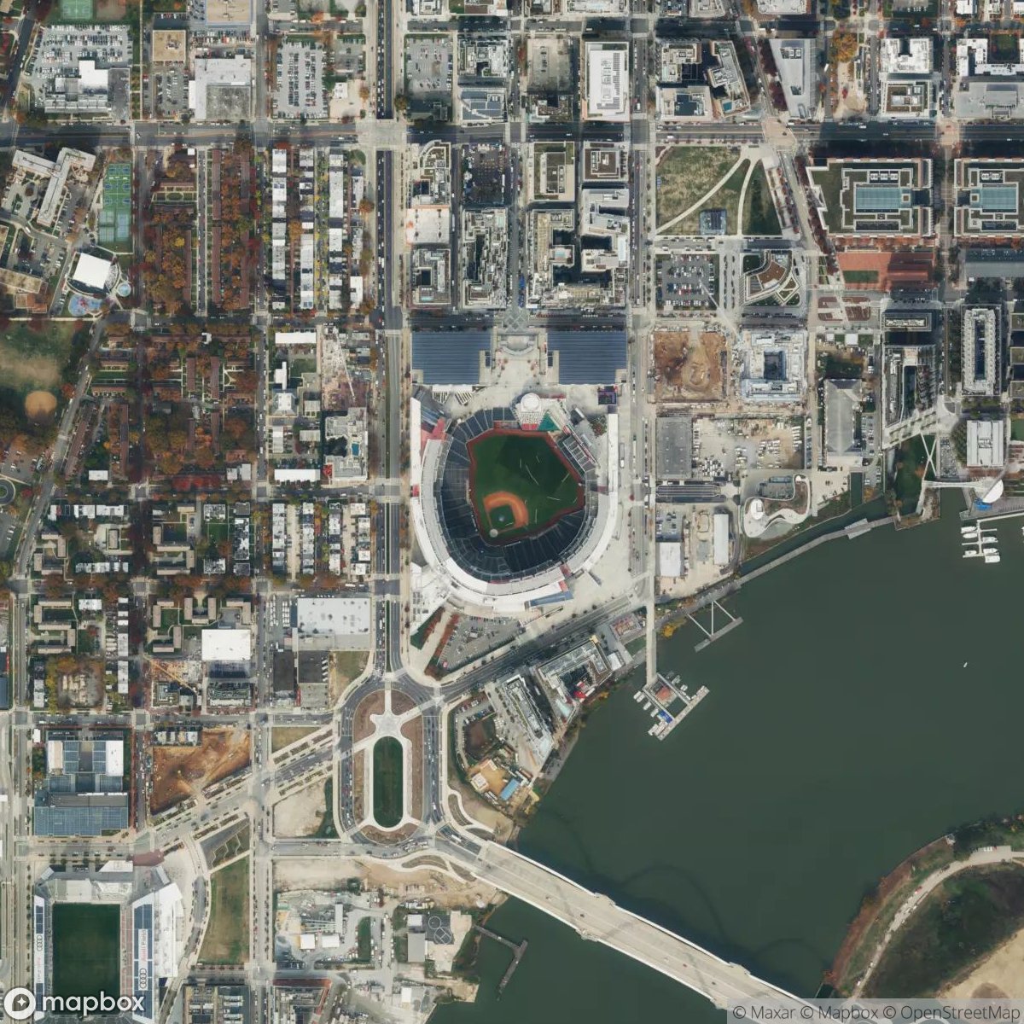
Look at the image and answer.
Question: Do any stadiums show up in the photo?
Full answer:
Yes, a stadium can be made out from above.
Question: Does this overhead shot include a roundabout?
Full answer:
Yes, I can see a roundabout in this picture.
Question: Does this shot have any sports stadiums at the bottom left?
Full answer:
Yes, I can see a sports stadium at the bottom left.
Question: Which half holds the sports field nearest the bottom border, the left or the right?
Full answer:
The sports field nearest the bottom border is on the left side of the image.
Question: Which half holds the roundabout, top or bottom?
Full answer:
The roundabout sits in the bottom half of the picture.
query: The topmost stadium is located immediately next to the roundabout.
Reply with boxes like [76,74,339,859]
[410,385,618,617]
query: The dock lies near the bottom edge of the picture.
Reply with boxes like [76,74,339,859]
[475,925,527,993]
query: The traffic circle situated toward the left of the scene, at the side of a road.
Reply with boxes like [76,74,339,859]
[337,674,440,856]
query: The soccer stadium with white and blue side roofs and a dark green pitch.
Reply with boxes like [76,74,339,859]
[34,867,184,1024]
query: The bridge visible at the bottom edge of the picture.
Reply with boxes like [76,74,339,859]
[472,840,841,1024]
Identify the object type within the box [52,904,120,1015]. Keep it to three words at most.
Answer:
sports field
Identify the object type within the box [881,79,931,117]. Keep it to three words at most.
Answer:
building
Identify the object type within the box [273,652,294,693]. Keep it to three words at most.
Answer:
building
